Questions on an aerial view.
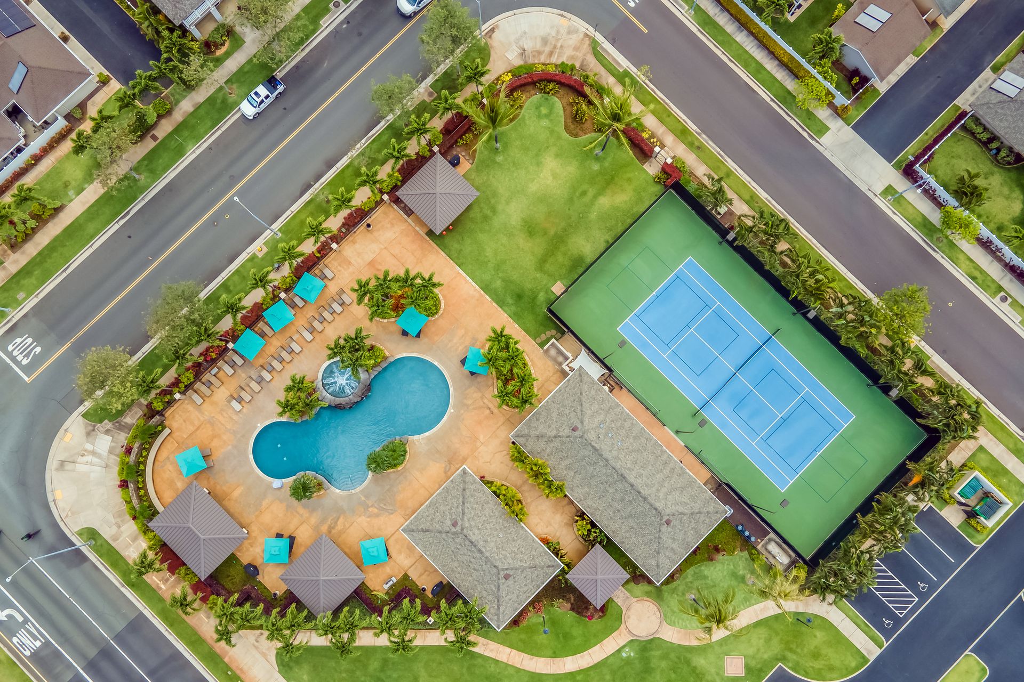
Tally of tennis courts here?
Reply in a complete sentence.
The picture shows 1 tennis court.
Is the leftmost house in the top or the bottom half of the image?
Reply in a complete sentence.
It is in the top half that the leftmost house appears.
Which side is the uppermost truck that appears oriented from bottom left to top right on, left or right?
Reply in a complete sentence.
You can find the uppermost truck that appears oriented from bottom left to top right on the left side of the picture.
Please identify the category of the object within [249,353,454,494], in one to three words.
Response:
swimming pool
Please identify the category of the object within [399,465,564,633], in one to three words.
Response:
building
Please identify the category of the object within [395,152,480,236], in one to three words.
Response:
building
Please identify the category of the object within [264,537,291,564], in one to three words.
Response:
umbrella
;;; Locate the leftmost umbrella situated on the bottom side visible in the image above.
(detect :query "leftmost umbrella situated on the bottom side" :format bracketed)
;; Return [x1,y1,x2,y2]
[177,445,209,478]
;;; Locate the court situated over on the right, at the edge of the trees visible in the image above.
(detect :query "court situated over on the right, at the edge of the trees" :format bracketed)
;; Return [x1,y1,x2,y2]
[551,189,927,557]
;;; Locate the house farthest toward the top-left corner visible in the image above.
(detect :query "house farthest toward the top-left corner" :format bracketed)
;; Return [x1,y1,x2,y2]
[0,0,105,170]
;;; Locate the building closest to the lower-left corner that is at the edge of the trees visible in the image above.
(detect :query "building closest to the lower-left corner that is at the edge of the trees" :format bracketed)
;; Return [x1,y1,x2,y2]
[148,480,252,581]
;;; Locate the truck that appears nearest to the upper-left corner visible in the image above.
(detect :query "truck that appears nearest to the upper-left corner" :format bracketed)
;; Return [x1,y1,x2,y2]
[241,75,287,120]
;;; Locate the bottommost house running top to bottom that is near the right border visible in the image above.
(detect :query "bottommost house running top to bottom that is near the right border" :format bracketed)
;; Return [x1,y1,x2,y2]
[961,49,1024,181]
